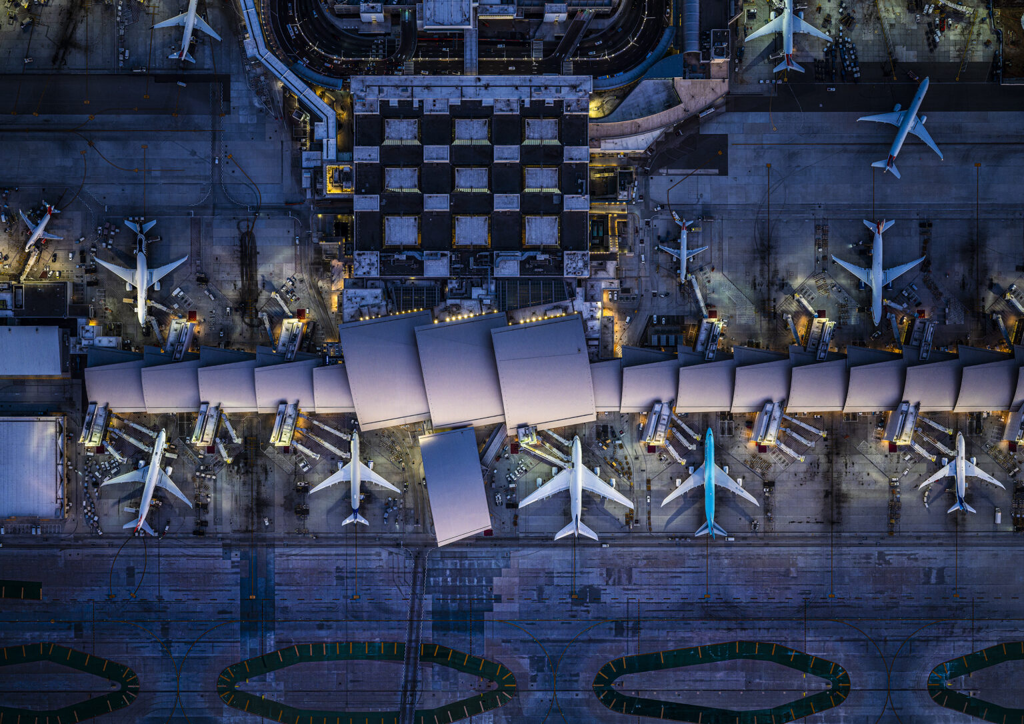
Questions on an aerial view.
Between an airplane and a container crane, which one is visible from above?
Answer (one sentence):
This aerial view contains an airplane.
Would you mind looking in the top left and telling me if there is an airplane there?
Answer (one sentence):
Yes, looking in the top left, one can make out an airplane.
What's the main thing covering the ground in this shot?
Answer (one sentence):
Most of the picture is covered by paved ground.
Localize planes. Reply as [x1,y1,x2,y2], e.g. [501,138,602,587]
[745,0,833,71]
[94,218,187,326]
[858,77,941,178]
[658,219,708,284]
[832,217,925,327]
[308,429,401,527]
[102,428,192,535]
[661,427,759,539]
[916,431,1007,514]
[152,0,222,62]
[519,436,635,542]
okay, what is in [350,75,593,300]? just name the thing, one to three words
building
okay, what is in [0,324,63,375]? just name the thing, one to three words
hangar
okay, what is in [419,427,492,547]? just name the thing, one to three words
building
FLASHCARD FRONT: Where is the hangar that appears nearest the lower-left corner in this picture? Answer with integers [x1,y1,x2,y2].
[0,416,69,520]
